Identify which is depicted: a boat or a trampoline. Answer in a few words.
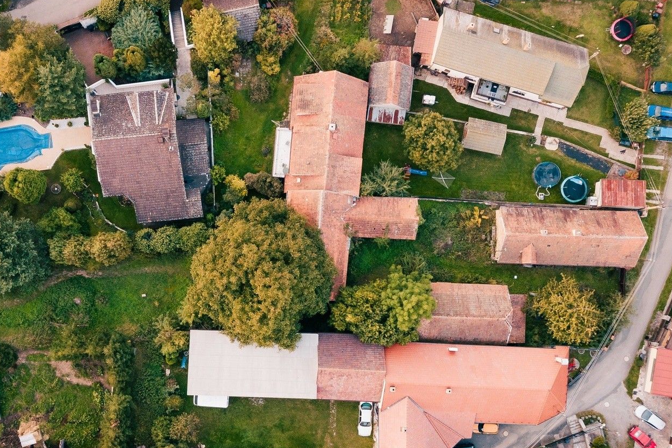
trampoline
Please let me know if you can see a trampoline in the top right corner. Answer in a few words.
Yes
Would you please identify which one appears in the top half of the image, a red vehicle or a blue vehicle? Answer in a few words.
blue vehicle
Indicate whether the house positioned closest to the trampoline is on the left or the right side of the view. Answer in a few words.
right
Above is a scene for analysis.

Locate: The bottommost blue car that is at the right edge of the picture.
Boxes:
[645,125,672,142]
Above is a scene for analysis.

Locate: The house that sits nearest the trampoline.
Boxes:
[433,6,589,108]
